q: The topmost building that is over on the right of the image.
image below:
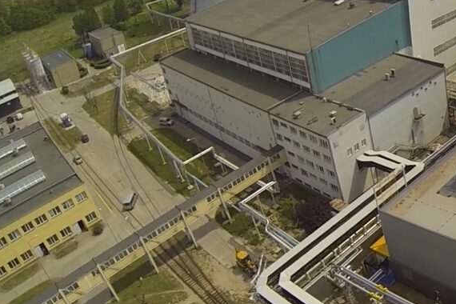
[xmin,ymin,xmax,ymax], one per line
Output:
[154,0,456,202]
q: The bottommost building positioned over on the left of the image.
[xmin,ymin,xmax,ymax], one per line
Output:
[0,120,102,282]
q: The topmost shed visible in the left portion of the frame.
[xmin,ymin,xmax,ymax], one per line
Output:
[87,25,129,57]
